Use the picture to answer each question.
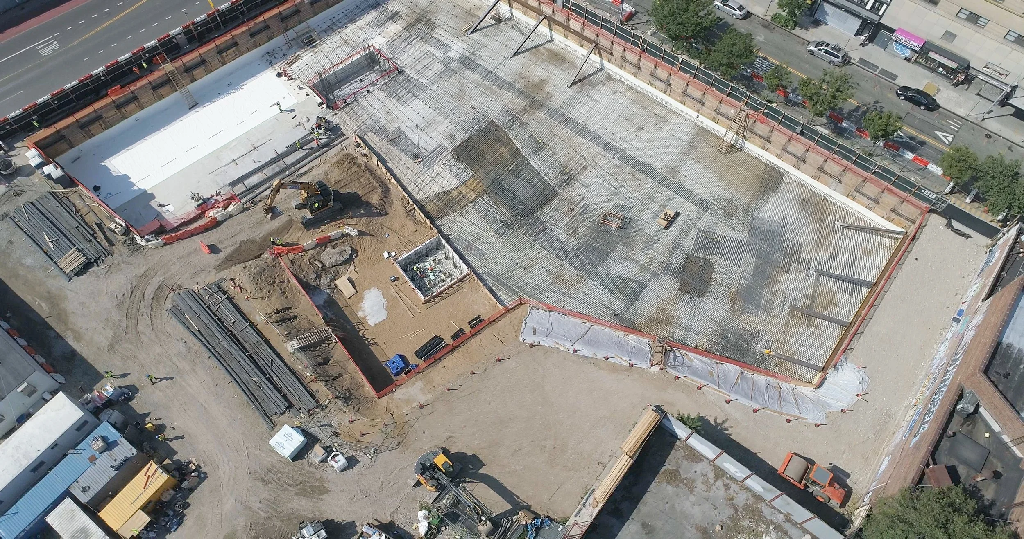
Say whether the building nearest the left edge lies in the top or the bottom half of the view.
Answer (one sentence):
The bottom half of the photo is where the building nearest the left edge is.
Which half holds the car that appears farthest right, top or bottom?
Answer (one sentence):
The car that appears farthest right is in the top half of the image.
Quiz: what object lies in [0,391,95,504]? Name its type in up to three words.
trailer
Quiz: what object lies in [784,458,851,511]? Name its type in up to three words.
work vehicle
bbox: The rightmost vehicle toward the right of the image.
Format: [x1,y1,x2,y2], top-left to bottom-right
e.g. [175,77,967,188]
[899,90,940,116]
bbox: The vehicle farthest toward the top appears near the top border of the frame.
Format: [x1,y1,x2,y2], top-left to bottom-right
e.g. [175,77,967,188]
[714,2,751,23]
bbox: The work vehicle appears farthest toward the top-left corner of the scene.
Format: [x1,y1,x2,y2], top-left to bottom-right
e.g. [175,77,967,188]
[263,172,343,223]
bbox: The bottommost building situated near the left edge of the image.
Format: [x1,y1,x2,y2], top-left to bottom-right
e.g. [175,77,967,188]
[0,329,57,435]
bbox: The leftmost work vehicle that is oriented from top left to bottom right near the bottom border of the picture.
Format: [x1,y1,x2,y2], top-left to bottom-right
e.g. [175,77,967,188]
[409,444,500,538]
